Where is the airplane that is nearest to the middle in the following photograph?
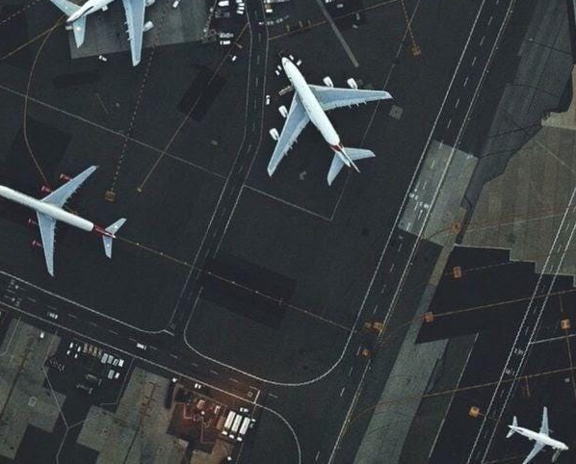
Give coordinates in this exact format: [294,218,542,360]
[269,57,396,187]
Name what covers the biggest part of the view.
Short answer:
paved ground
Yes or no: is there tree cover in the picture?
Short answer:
No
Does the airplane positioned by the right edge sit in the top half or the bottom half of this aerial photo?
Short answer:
bottom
